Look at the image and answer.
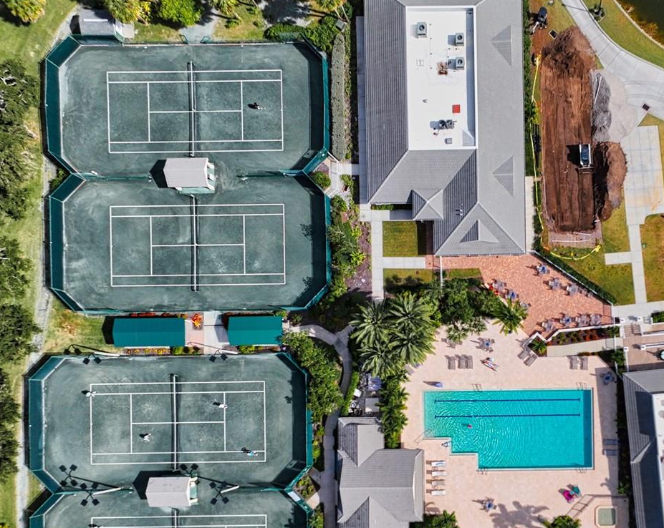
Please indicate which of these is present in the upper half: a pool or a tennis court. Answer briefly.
tennis court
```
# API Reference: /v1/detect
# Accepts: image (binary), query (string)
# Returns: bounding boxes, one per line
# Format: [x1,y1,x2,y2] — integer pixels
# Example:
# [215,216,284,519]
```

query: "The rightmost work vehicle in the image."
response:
[577,144,592,172]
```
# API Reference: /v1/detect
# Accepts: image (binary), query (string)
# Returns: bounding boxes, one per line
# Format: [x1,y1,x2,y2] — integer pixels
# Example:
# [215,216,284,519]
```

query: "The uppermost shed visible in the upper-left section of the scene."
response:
[75,9,123,41]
